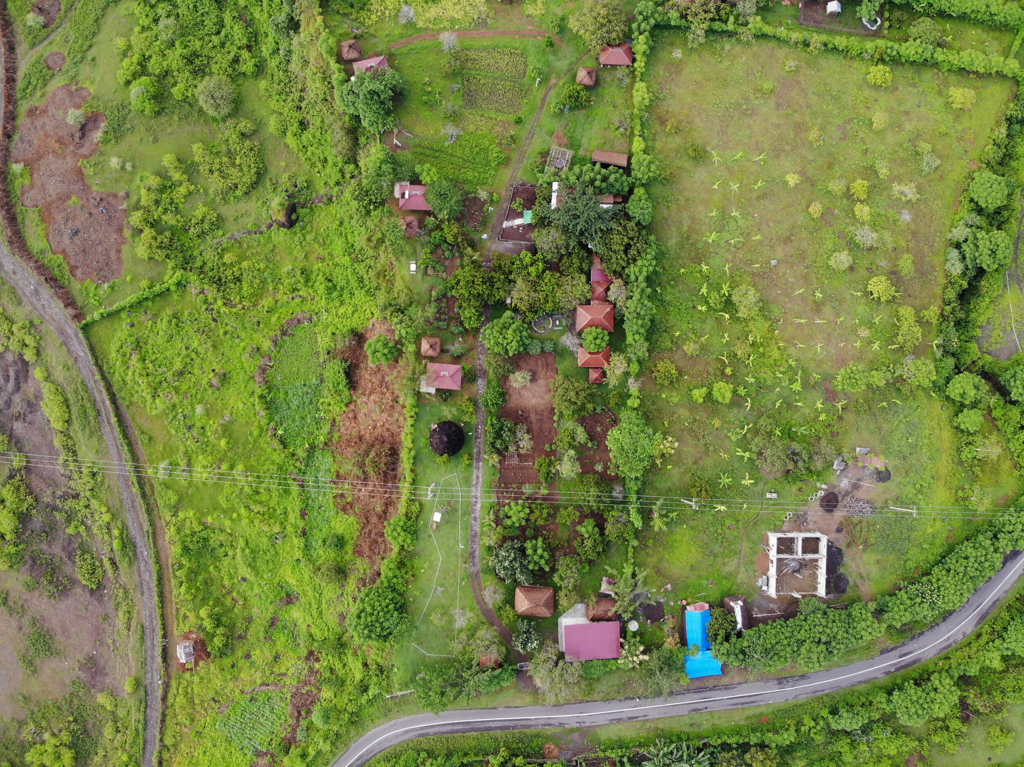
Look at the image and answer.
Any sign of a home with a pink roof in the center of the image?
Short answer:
Yes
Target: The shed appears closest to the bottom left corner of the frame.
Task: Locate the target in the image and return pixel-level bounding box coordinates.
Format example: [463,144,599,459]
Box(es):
[176,643,195,664]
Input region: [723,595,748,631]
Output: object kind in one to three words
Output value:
barn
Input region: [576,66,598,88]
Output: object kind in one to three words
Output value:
shed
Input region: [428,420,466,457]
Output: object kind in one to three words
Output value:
building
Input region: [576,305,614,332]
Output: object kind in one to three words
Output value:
house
